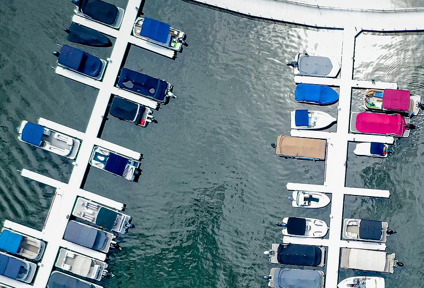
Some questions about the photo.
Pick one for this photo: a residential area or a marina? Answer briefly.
marina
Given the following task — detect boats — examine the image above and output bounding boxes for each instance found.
[360,88,424,115]
[112,67,177,104]
[55,247,111,280]
[295,84,339,105]
[346,111,415,137]
[261,267,328,288]
[50,45,108,80]
[0,228,46,260]
[70,0,129,28]
[63,23,113,49]
[269,135,328,160]
[338,218,395,241]
[289,55,340,77]
[129,16,190,52]
[353,142,397,158]
[0,251,37,281]
[339,249,403,273]
[64,221,120,252]
[283,191,329,208]
[72,196,133,235]
[337,277,388,288]
[290,110,337,129]
[48,272,102,288]
[14,122,80,162]
[108,96,157,127]
[261,243,328,267]
[88,147,147,180]
[277,217,329,237]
